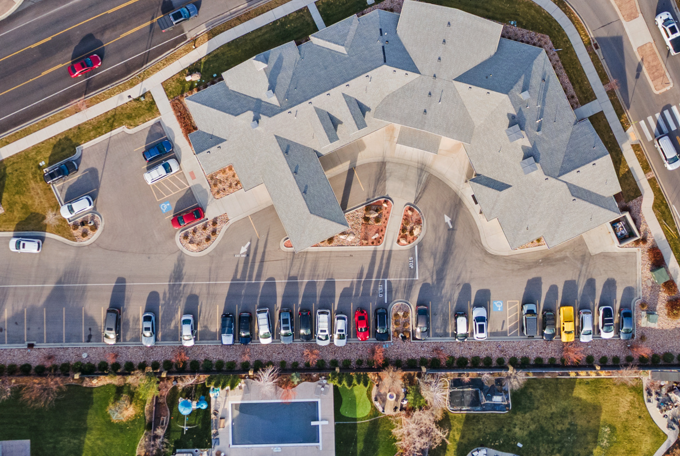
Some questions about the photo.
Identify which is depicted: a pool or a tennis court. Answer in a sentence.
This aerial view contains a pool.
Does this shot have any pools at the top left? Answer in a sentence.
No, at the top left there is no pool.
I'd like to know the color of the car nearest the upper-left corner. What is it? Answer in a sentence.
The color of the car nearest the upper-left corner is red.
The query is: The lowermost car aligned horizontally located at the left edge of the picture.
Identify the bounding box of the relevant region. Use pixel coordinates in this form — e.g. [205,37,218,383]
[9,237,42,254]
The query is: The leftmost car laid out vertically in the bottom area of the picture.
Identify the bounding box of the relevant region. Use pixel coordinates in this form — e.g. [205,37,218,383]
[102,308,121,345]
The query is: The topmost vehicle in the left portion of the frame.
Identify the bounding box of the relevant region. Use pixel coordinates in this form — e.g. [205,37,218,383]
[156,3,199,29]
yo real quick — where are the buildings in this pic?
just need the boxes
[187,0,621,254]
[646,367,680,382]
